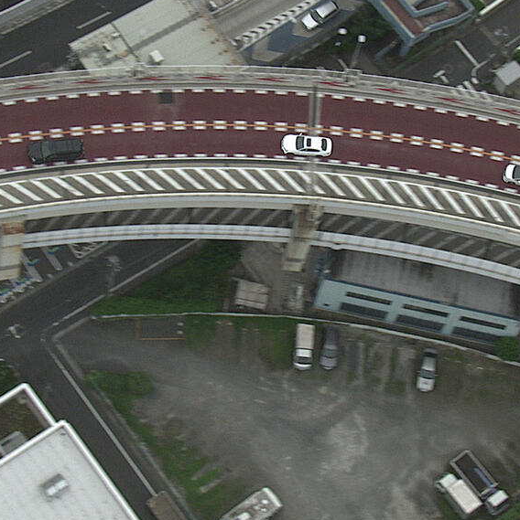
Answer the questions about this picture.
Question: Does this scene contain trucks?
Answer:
Yes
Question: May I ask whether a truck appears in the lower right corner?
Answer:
Yes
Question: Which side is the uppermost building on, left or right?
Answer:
left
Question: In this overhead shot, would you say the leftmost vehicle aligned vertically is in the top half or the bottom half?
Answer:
bottom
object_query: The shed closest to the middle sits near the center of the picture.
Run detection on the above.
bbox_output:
[232,278,268,320]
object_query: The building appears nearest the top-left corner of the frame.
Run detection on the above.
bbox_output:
[66,0,244,69]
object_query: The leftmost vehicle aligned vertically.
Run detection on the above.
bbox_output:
[294,320,316,370]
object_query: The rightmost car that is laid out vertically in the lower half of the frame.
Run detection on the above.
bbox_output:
[417,347,441,393]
